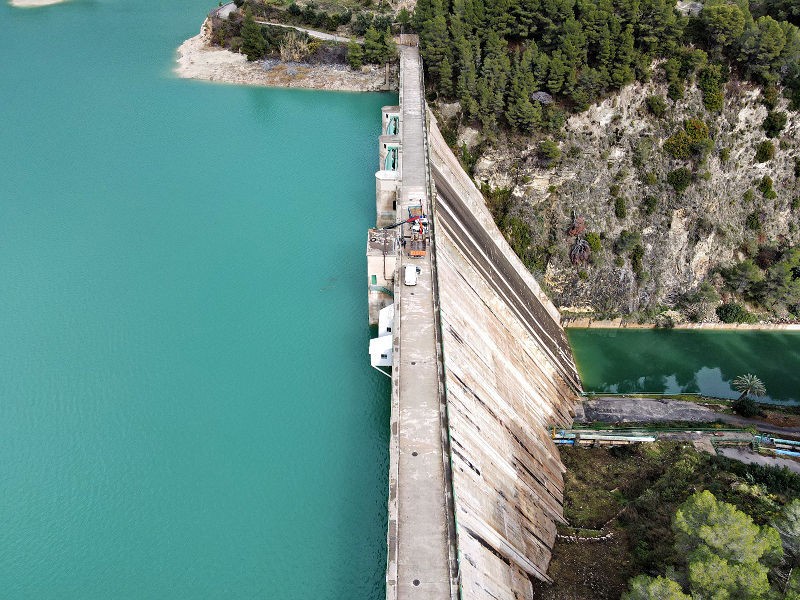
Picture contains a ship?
No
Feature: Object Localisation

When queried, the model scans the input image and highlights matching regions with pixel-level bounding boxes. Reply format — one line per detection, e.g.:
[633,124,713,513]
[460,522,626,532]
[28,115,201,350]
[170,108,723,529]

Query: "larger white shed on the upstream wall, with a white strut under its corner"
[368,335,391,383]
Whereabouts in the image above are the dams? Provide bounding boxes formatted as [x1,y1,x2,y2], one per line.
[371,40,580,600]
